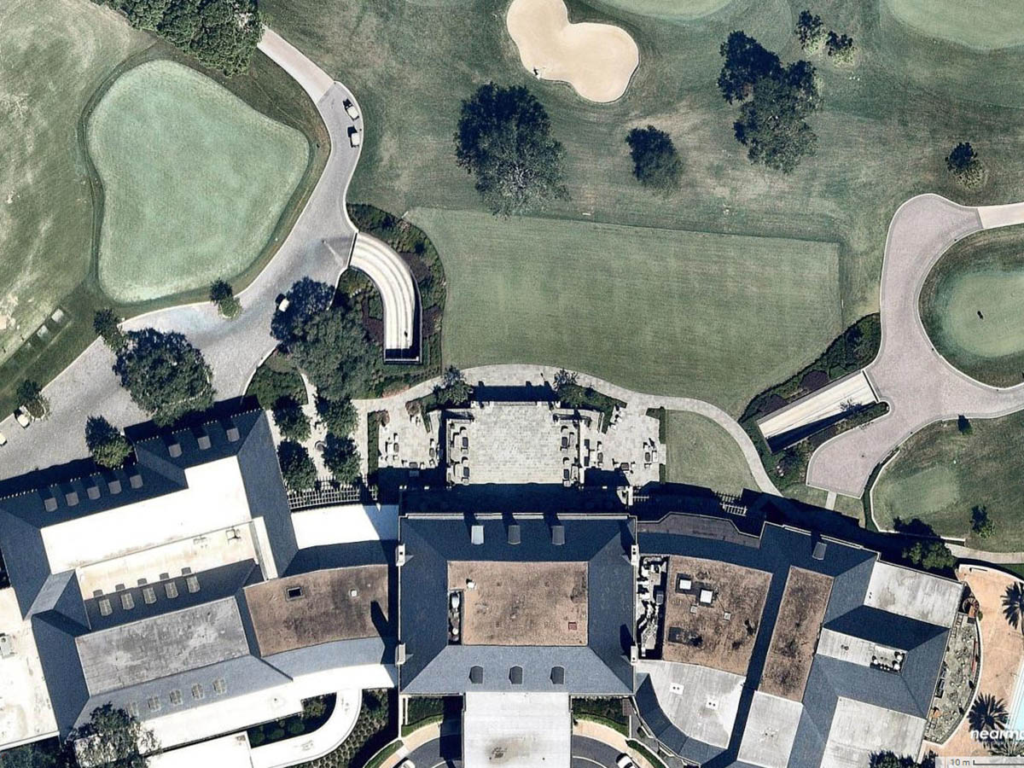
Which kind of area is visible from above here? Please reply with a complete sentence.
The area seen from above is a golf course.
